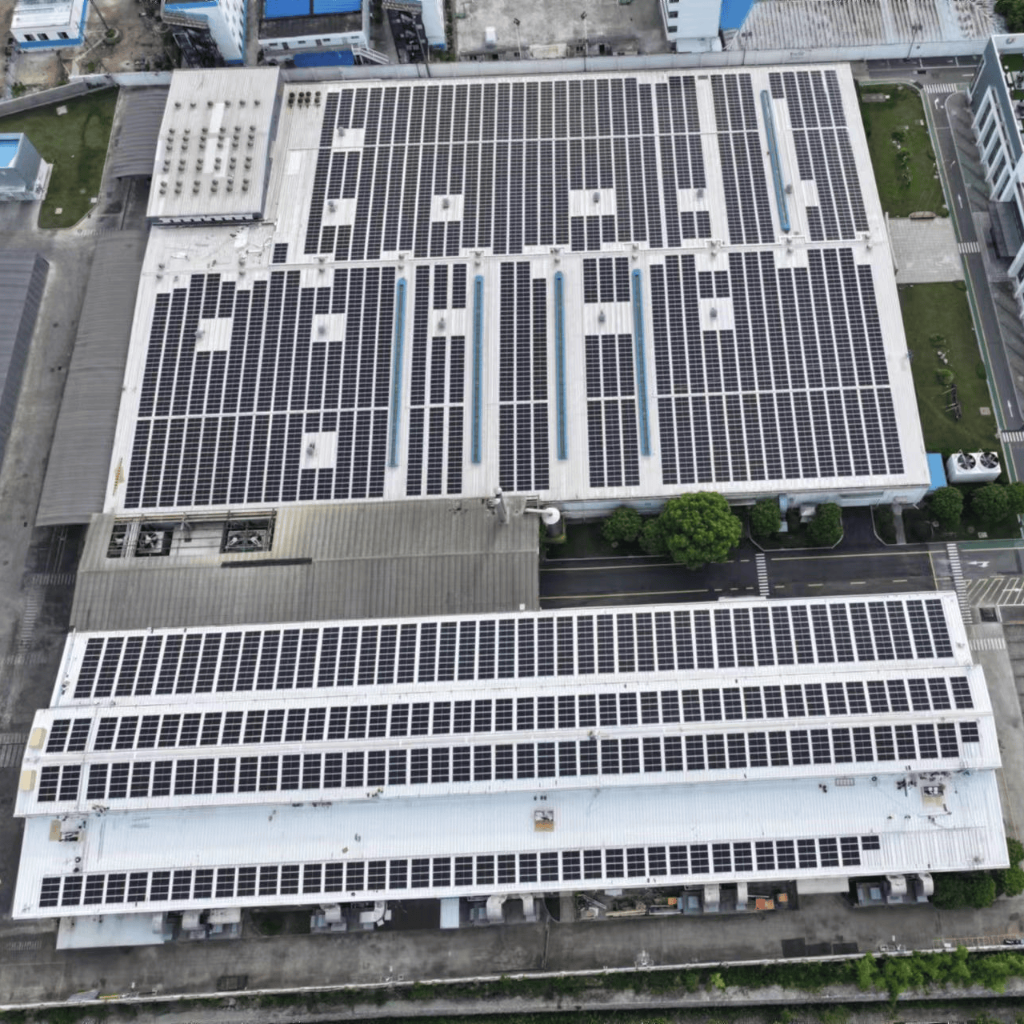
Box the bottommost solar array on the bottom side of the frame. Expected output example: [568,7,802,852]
[40,836,901,906]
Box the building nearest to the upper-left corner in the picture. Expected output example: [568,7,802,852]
[9,0,95,49]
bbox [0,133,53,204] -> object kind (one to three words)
building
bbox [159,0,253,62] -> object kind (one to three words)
building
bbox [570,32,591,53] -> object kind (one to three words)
shed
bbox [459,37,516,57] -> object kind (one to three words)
shed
